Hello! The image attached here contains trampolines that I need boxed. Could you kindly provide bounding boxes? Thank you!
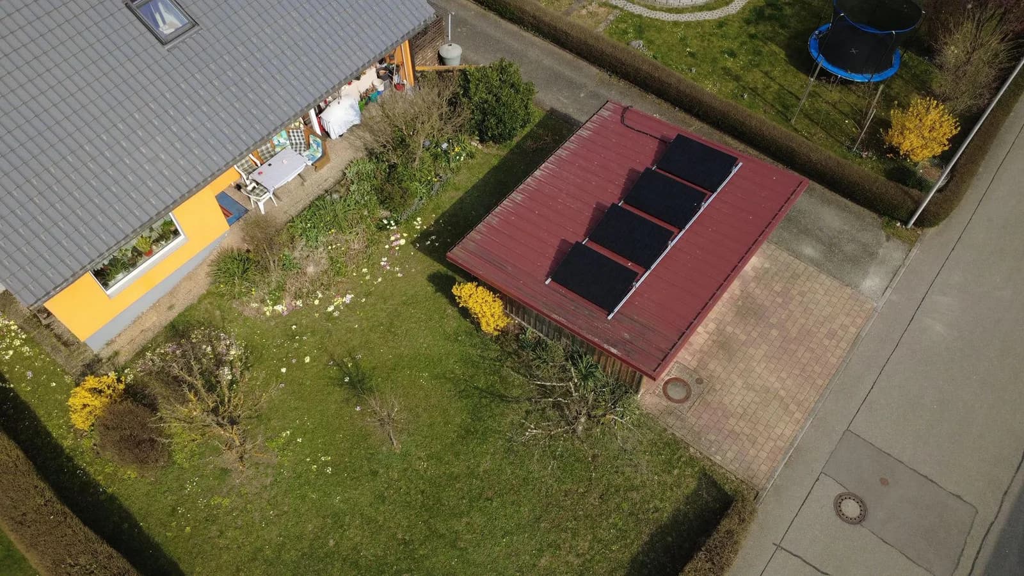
[799,0,926,104]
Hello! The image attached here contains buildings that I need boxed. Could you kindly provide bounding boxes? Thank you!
[444,100,810,396]
[0,0,450,349]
